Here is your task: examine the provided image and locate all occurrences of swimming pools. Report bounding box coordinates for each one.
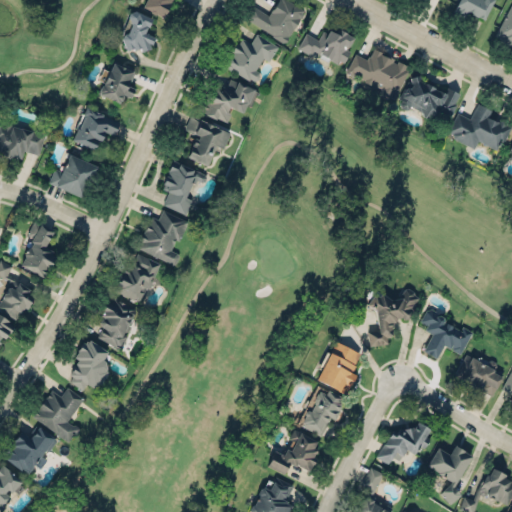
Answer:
[51,142,66,165]
[258,62,281,85]
[398,453,421,476]
[110,358,128,378]
[193,177,214,202]
[381,482,402,504]
[290,382,312,412]
[36,453,70,486]
[63,106,81,138]
[304,58,332,76]
[18,109,37,124]
[276,428,288,446]
[90,62,106,84]
[400,112,424,128]
[8,489,30,512]
[148,286,166,306]
[468,147,492,166]
[420,293,450,323]
[8,232,22,258]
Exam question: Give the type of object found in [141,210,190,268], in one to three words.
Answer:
house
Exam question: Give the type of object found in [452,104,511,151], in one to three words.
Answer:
house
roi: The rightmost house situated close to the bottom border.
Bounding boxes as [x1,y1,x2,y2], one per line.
[480,468,512,504]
